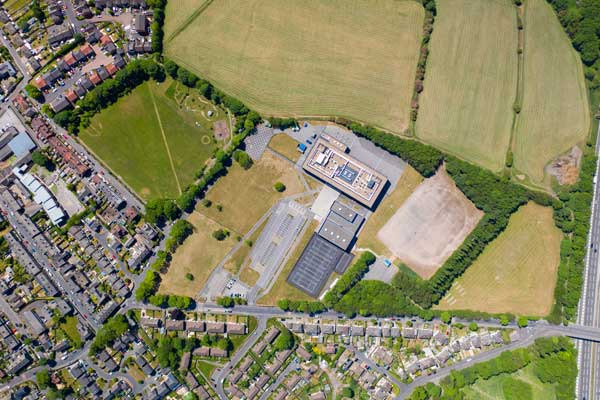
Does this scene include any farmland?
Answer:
Yes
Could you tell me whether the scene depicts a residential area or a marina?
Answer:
residential area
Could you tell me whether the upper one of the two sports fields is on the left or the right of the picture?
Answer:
left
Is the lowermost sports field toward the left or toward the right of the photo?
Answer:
right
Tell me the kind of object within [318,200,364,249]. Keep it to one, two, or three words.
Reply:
building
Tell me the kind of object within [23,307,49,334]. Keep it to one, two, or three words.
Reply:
building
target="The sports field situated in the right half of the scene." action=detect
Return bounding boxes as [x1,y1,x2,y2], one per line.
[378,168,483,276]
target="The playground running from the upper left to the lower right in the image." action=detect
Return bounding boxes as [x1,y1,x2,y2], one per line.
[175,86,229,145]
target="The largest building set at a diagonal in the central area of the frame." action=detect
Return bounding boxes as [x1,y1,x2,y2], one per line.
[301,136,387,208]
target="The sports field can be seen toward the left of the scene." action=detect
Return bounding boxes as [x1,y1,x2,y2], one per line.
[81,76,233,203]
